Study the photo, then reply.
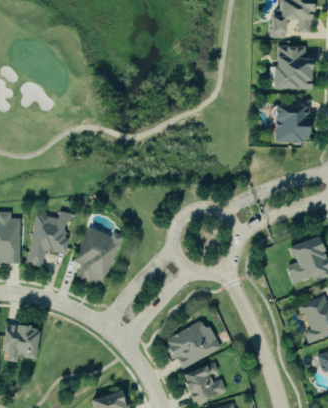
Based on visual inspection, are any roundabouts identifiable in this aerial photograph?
Yes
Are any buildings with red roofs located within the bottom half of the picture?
No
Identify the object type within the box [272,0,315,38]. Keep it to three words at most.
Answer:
house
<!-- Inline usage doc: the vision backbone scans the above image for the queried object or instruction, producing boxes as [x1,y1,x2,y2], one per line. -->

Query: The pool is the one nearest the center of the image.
[88,213,121,236]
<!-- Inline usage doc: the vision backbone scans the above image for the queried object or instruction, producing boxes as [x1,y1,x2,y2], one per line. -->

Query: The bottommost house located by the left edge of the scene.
[4,324,40,363]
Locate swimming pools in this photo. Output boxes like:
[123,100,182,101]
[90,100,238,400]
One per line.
[88,213,121,236]
[260,104,275,128]
[312,357,328,393]
[292,313,308,342]
[262,0,278,23]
